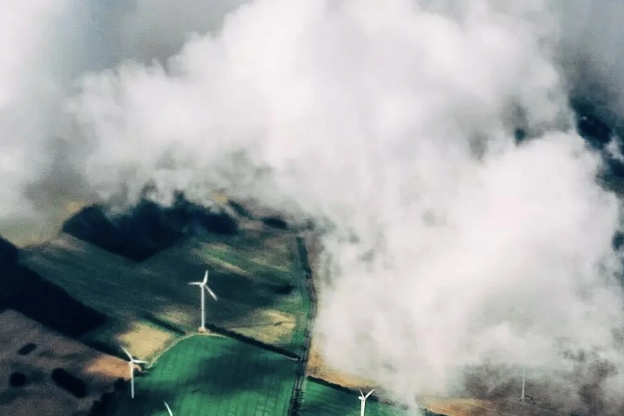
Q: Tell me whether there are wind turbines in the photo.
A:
Yes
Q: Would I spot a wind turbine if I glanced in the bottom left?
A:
Yes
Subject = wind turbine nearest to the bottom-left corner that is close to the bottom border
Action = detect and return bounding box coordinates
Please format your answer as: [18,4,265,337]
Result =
[122,346,145,398]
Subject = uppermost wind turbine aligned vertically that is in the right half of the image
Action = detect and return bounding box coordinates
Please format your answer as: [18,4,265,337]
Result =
[511,341,540,399]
